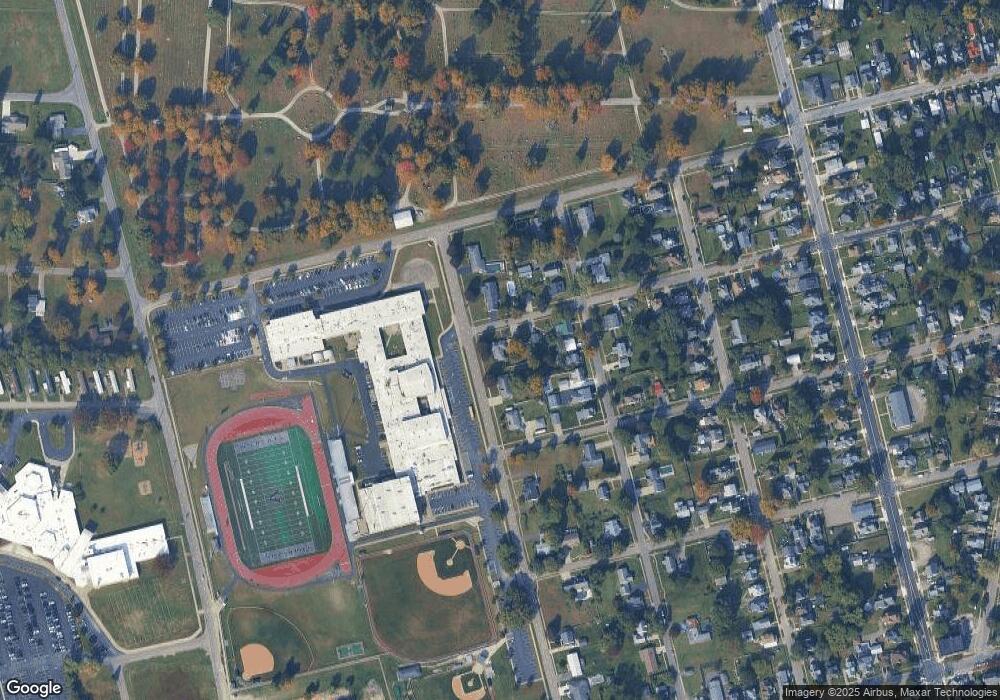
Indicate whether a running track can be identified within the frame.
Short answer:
Yes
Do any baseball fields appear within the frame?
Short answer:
Yes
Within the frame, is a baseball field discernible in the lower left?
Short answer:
Yes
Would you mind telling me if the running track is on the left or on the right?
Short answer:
left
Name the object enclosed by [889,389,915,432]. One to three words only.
building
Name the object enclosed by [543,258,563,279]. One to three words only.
house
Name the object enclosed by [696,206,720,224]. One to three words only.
house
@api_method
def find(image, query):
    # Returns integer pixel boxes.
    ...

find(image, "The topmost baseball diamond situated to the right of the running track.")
[364,529,496,660]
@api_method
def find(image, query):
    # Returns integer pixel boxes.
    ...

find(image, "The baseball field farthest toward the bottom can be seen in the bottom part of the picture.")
[414,663,496,700]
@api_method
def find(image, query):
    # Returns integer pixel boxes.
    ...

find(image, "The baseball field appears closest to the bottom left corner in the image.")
[228,606,314,689]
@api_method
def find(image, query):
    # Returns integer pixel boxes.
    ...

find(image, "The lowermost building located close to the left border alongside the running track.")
[0,462,169,589]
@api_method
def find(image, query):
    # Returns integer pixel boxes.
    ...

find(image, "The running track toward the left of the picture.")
[200,388,353,594]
